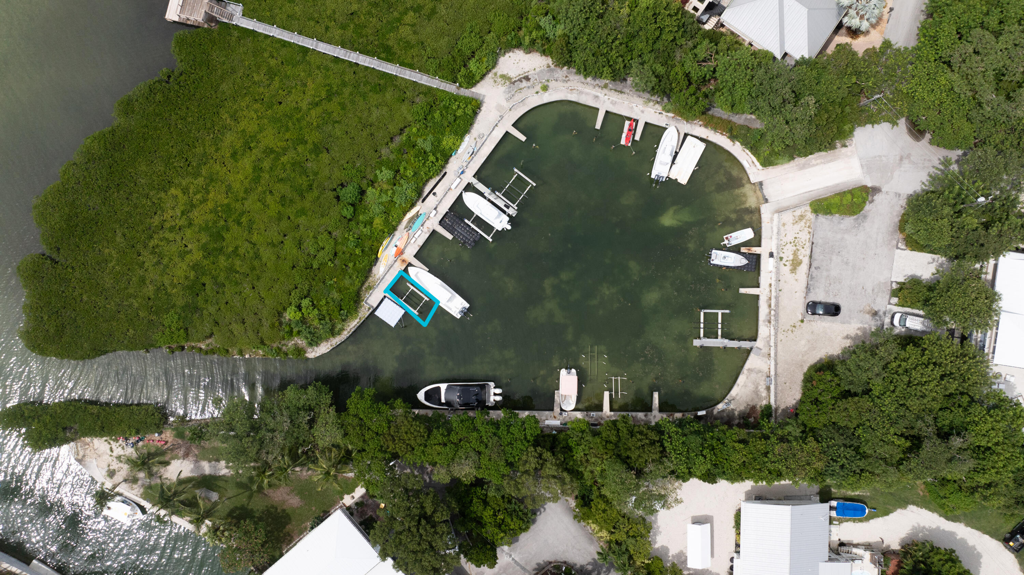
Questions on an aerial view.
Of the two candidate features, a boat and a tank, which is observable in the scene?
boat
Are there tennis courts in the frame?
No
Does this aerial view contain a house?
Yes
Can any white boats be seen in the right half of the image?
Yes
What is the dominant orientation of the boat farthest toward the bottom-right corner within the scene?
from left to right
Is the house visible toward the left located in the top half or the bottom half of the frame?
bottom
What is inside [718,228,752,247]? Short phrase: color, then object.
white boat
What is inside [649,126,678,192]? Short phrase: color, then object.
white boat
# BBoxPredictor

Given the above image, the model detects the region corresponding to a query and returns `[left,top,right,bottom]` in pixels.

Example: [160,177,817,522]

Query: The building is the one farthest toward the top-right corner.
[718,0,849,69]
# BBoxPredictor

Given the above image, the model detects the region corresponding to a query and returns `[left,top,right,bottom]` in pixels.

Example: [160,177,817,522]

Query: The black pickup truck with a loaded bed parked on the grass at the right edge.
[1001,511,1024,555]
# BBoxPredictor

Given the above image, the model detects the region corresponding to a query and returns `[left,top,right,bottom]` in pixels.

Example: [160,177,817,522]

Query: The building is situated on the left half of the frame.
[260,505,402,575]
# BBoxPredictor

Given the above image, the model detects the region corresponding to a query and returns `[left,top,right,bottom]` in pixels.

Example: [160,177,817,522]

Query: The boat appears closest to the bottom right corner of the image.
[829,498,875,519]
